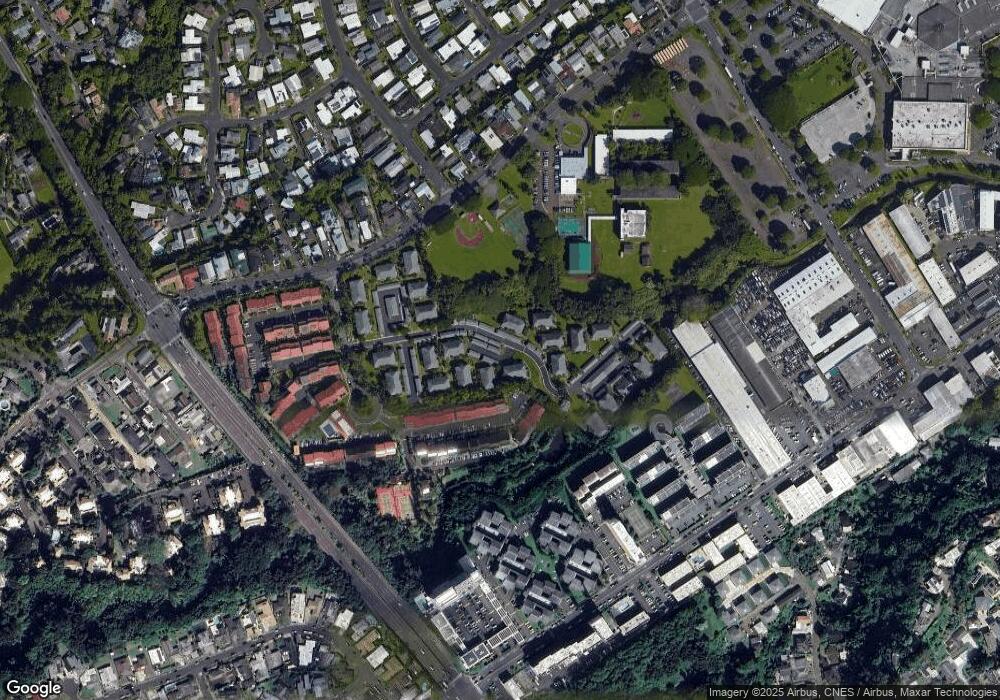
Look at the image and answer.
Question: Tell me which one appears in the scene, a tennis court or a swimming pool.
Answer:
tennis court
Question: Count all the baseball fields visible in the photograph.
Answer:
1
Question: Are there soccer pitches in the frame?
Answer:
No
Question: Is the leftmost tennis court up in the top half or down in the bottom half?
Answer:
bottom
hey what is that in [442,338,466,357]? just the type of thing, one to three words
house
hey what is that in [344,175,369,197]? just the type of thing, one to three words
house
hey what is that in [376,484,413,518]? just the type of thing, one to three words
tennis court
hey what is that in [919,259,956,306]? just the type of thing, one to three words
building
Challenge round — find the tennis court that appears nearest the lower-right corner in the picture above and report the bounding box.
[621,505,652,539]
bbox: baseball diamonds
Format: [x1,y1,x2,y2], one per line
[428,208,520,280]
